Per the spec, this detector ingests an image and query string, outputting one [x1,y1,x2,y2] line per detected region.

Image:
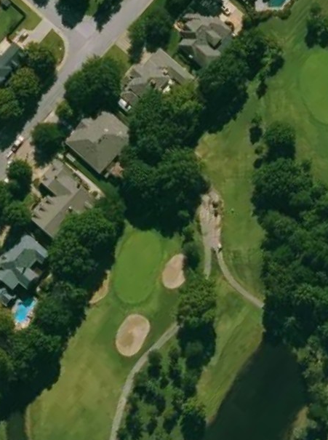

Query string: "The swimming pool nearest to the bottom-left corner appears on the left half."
[14,293,39,325]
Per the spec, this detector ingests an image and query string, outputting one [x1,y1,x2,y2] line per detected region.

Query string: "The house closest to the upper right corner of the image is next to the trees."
[176,14,233,68]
